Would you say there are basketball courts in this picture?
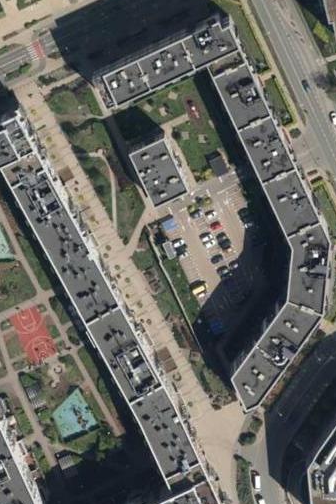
Yes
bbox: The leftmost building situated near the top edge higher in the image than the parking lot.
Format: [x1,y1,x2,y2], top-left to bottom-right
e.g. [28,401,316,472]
[103,12,245,105]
